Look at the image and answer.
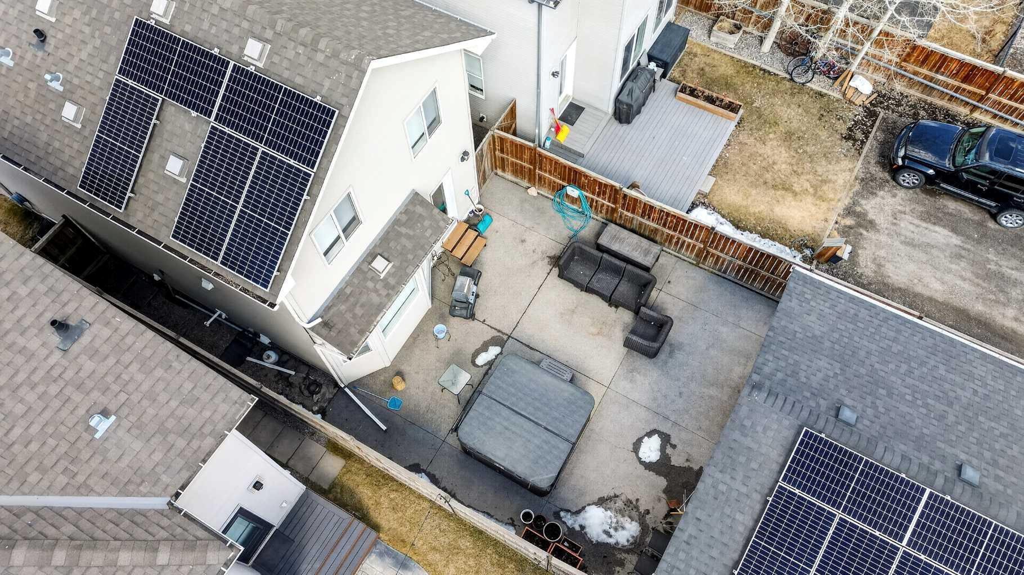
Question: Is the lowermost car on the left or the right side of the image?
right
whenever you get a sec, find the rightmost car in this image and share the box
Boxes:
[884,112,1024,228]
